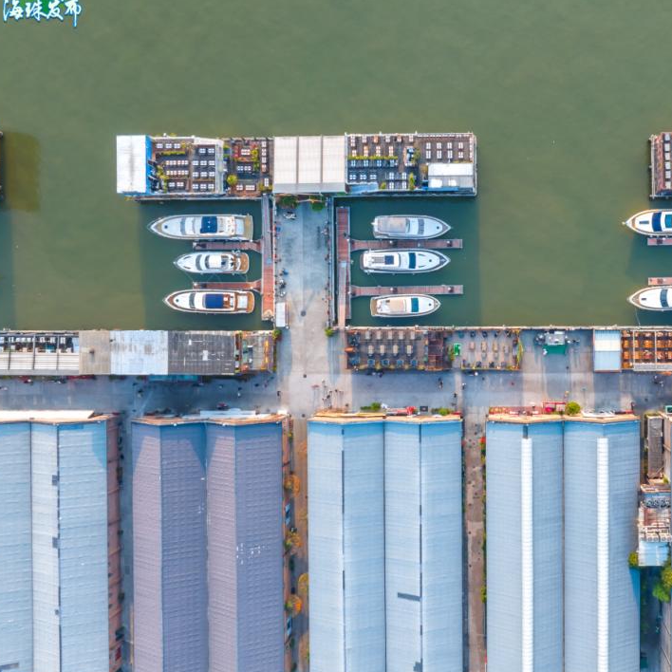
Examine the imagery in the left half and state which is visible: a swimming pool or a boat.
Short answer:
boat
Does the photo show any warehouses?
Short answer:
Yes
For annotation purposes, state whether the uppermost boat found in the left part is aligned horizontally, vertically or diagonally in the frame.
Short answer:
horizontally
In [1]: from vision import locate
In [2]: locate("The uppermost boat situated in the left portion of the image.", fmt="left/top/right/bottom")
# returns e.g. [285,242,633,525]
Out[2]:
[151,214,257,241]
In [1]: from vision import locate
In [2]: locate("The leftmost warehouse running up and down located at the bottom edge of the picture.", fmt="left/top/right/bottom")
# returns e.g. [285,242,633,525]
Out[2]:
[0,418,123,672]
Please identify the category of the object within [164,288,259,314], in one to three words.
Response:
boat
